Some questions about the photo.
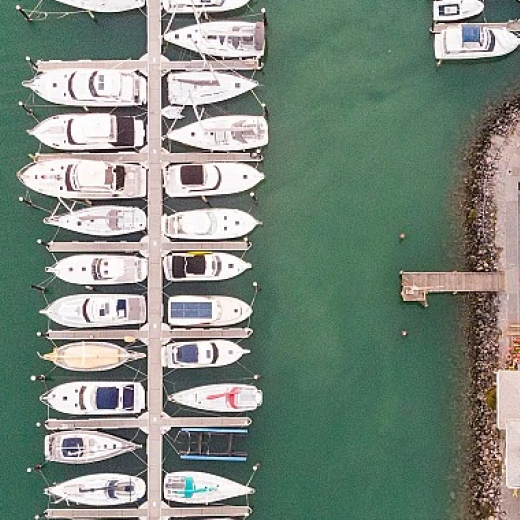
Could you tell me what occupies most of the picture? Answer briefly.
water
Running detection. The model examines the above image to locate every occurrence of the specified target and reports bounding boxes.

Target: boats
[161,37,261,112]
[26,202,148,243]
[23,107,148,158]
[37,335,147,377]
[161,290,254,332]
[161,380,263,413]
[20,62,149,116]
[161,0,266,57]
[33,428,147,470]
[14,155,150,206]
[432,0,485,23]
[161,154,266,205]
[56,0,147,23]
[162,106,183,120]
[161,200,263,247]
[37,376,147,426]
[36,288,148,335]
[161,464,255,509]
[161,240,253,289]
[434,26,520,60]
[32,470,147,517]
[161,95,269,152]
[161,332,251,375]
[38,245,148,292]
